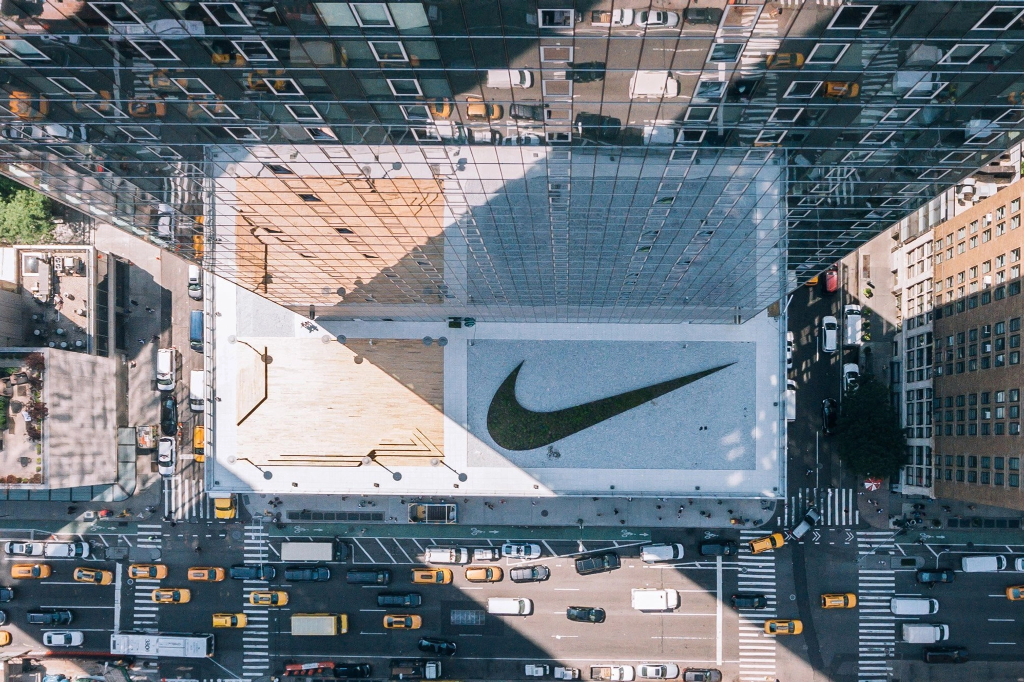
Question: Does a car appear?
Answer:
Yes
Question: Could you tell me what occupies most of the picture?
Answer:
buildings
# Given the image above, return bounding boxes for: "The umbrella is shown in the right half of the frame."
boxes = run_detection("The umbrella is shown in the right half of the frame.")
[863,474,881,492]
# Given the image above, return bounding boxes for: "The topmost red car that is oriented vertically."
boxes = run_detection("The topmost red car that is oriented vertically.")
[823,263,840,296]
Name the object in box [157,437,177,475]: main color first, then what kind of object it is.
white car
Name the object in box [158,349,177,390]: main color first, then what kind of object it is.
white vehicle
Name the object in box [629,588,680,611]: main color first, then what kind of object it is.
white truck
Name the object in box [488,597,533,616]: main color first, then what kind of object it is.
white vehicle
